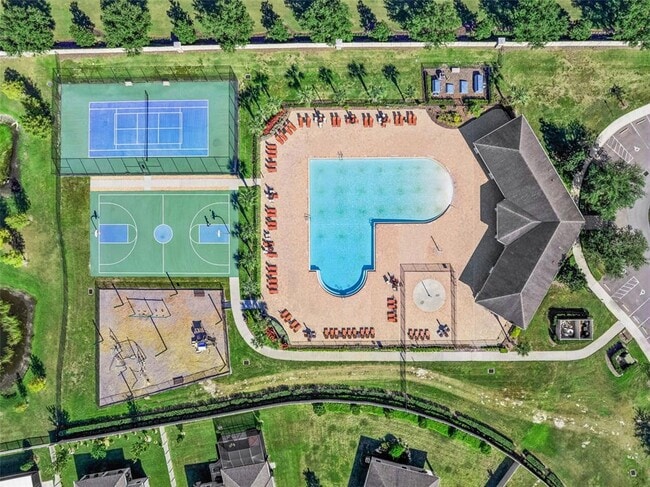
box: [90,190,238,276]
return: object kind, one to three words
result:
basketball court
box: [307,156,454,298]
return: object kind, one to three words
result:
swimming pool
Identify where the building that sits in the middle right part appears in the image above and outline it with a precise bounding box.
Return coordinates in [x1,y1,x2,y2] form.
[470,114,608,330]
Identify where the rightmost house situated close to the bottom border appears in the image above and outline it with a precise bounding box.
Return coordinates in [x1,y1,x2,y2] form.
[364,455,441,487]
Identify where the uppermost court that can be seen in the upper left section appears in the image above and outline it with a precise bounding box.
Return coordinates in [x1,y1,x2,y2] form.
[62,83,236,174]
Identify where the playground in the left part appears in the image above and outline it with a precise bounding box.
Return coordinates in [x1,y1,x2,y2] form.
[98,289,229,406]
